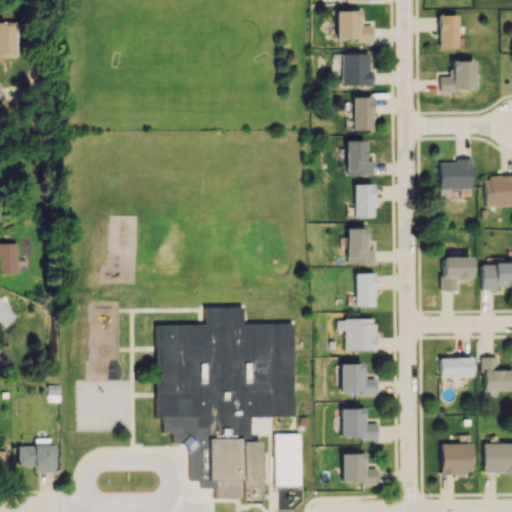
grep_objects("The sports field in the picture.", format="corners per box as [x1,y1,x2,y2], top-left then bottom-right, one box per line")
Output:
[80,0,300,127]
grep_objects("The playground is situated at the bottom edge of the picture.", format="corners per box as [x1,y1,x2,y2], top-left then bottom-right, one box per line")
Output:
[279,488,304,510]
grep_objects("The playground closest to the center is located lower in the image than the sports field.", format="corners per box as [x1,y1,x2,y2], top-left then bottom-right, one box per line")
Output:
[101,216,138,284]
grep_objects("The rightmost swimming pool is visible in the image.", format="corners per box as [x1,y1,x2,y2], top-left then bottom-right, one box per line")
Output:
[442,388,456,403]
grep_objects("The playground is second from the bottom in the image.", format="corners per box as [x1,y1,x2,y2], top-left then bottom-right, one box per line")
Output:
[86,301,121,380]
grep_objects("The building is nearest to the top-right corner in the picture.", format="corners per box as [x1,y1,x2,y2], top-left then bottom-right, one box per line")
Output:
[440,15,462,49]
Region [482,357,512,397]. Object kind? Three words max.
house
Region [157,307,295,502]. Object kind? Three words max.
building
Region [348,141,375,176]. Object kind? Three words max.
house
